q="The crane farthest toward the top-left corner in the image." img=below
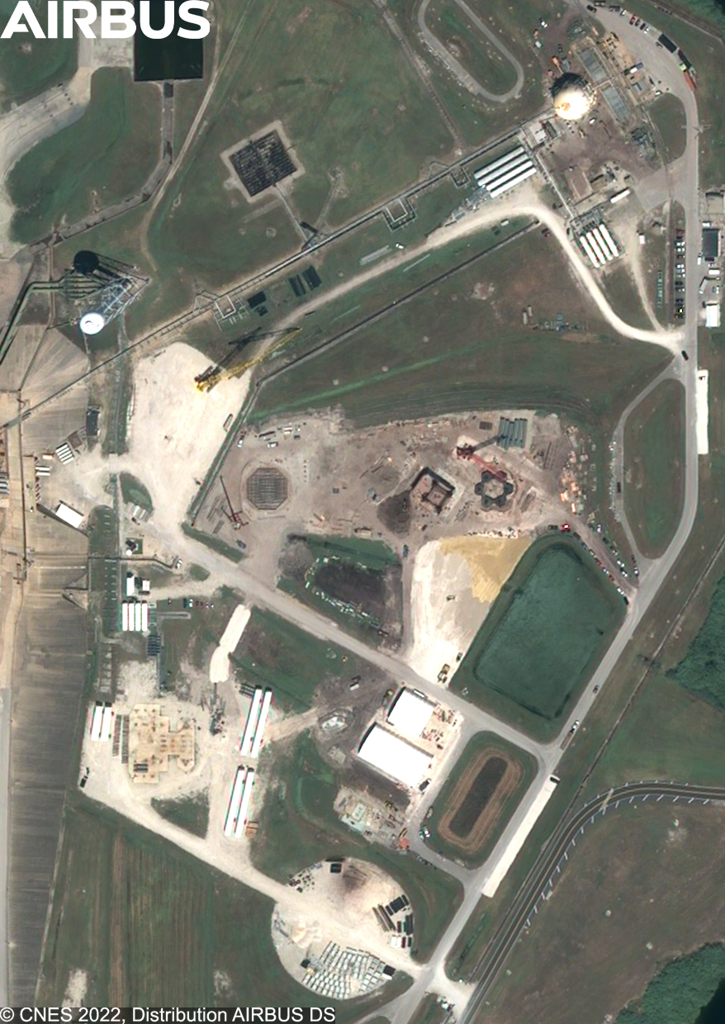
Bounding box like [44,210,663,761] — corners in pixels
[189,327,302,398]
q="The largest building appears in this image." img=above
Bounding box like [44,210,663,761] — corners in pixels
[359,721,433,787]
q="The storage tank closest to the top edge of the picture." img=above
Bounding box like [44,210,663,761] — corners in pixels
[554,78,598,122]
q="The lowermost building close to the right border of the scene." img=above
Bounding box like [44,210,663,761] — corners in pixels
[706,303,722,327]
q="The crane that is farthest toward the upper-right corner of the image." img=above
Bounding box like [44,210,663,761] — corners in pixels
[447,444,506,482]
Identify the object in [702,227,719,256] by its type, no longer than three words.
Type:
building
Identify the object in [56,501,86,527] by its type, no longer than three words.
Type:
building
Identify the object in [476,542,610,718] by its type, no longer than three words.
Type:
pond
